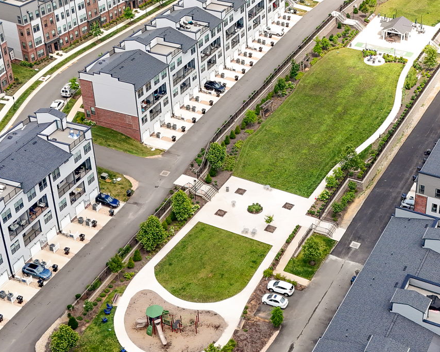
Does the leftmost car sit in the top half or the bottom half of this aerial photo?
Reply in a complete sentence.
It is in the bottom half that the leftmost car appears.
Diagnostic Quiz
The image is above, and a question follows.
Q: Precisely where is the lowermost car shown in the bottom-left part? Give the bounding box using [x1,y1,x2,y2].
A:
[23,257,52,282]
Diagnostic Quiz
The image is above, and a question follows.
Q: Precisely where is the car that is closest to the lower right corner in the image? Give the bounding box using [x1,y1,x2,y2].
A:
[395,194,417,211]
